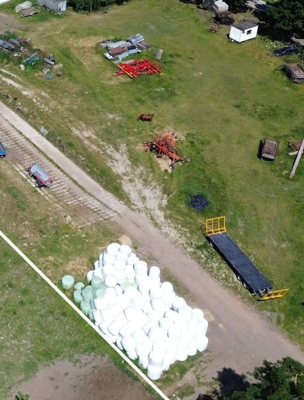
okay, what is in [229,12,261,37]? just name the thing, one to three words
building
